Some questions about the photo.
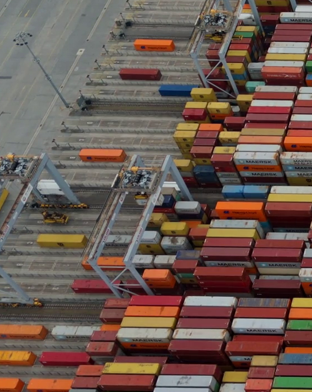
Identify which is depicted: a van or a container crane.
container crane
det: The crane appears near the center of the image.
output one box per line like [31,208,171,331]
[85,152,203,298]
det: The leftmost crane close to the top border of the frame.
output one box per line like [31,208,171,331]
[186,0,264,104]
